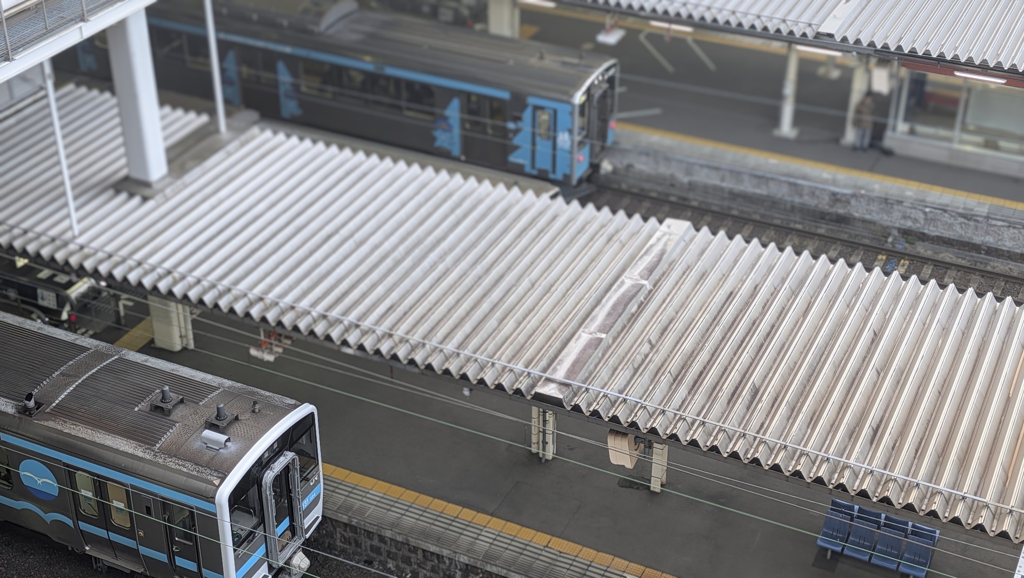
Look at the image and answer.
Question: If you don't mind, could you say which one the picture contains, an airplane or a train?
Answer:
train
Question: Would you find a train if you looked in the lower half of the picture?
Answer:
Yes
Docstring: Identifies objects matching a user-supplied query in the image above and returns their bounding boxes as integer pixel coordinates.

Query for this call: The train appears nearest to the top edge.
[70,0,613,202]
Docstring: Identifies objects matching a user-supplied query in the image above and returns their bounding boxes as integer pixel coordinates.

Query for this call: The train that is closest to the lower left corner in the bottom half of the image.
[0,308,327,578]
